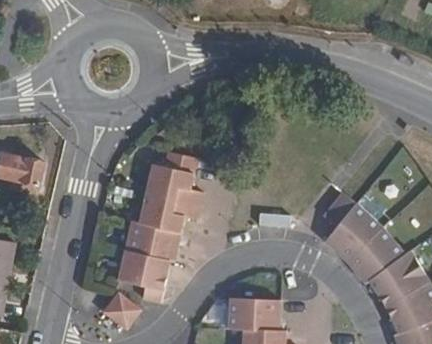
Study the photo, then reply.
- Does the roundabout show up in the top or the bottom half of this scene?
top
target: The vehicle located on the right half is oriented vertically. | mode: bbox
[286,268,298,290]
